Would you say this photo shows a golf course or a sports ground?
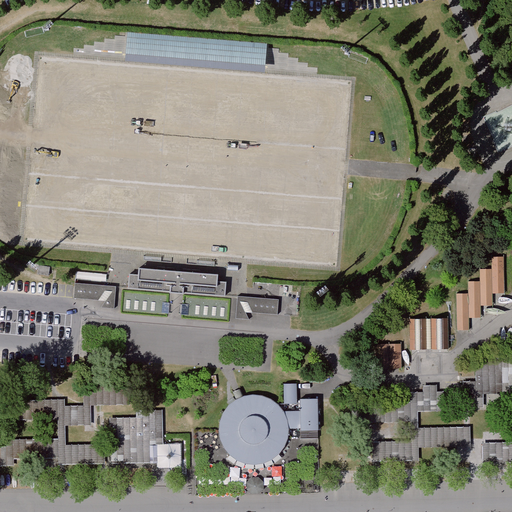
sports ground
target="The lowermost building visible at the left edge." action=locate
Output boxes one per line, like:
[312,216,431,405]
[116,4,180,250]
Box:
[0,390,128,466]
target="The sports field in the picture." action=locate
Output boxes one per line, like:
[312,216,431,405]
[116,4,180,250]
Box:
[20,52,356,270]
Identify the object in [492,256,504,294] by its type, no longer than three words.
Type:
building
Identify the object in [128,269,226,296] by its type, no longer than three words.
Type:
building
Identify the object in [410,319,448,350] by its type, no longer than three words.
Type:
shed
